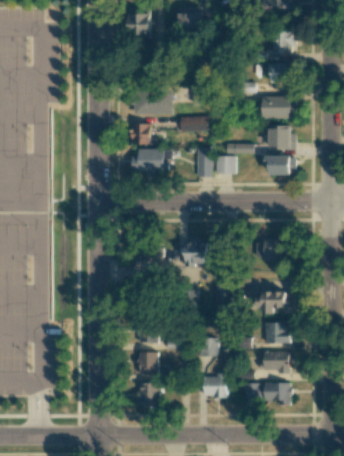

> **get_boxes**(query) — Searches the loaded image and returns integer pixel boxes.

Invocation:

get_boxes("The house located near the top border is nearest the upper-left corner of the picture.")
[126,12,155,34]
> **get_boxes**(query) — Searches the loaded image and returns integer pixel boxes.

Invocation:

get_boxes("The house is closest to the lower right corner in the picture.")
[264,382,294,406]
